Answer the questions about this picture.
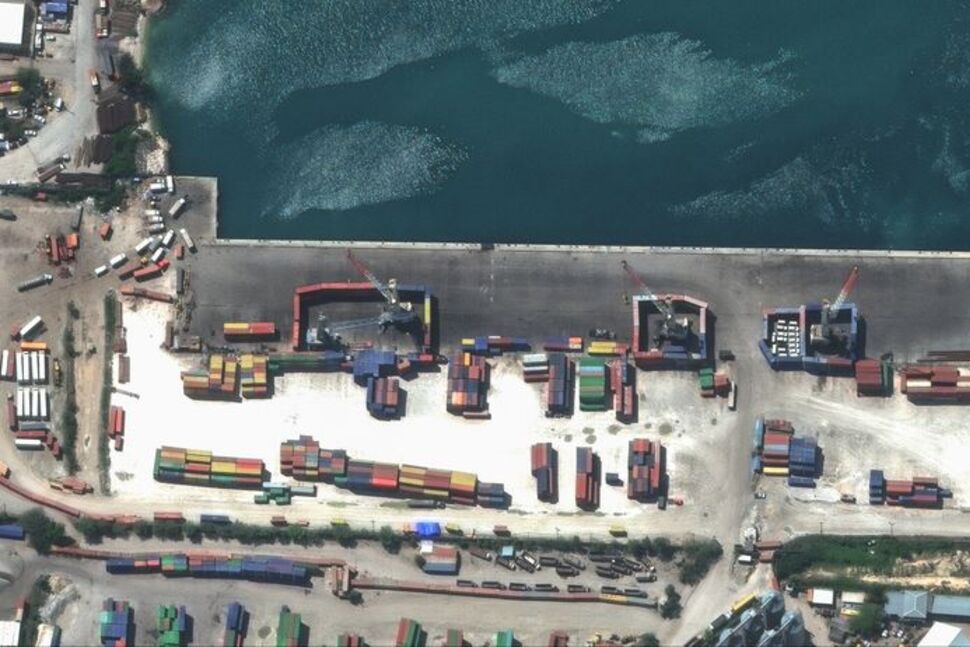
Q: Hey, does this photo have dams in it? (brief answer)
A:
No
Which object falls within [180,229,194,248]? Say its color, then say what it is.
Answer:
white vehicle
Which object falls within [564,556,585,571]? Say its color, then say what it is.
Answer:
gray vehicle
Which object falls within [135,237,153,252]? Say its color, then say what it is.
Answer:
white vehicle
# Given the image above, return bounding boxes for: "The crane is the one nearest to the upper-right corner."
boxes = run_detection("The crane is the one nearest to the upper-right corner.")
[808,266,857,345]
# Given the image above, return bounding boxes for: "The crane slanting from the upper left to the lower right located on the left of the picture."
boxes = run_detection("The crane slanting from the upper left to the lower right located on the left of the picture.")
[347,254,414,326]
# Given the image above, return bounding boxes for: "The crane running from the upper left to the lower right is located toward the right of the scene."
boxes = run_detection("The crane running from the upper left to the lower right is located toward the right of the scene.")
[621,261,691,344]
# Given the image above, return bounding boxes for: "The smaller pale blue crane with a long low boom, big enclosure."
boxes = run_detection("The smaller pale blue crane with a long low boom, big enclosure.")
[301,316,395,350]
